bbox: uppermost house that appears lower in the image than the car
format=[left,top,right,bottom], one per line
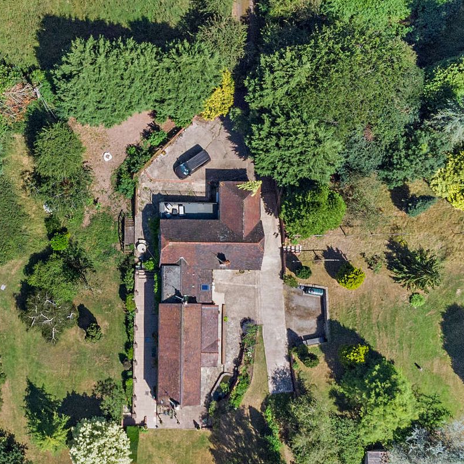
[159,182,265,304]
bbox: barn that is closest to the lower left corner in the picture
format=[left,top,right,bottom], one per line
[157,292,219,413]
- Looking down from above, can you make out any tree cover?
Yes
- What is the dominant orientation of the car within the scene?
at an angle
